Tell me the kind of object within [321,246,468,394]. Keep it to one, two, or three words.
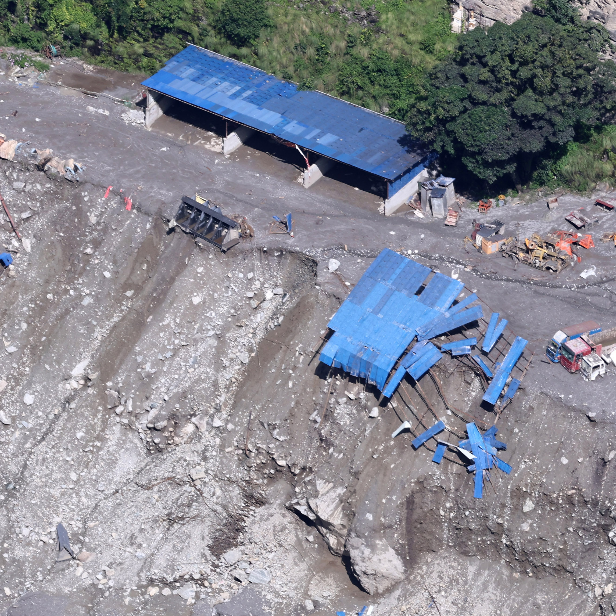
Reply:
shed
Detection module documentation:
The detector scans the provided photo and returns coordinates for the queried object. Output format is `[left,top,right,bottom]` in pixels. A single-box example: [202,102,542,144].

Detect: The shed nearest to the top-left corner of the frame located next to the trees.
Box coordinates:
[139,45,432,217]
